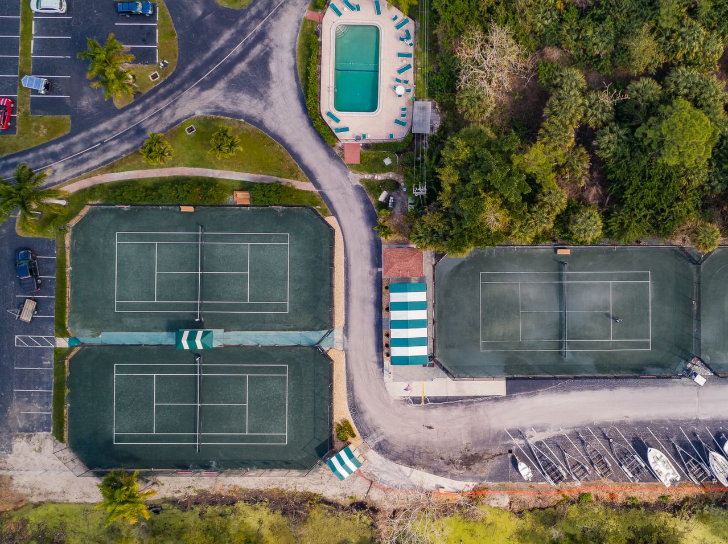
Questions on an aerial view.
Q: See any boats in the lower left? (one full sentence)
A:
No, no boat can be made out in the lower left.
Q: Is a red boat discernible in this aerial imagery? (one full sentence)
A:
No, no red boat is visible in the scene.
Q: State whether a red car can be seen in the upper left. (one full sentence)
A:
Yes, a red car can be seen in the upper left.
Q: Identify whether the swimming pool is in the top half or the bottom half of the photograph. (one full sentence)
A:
Seen from above, the swimming pool lies in the top half of the view.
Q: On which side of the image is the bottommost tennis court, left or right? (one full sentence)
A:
The bottommost tennis court appears in the left half of the scene.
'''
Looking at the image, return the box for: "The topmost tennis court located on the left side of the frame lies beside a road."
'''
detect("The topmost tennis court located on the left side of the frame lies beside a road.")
[70,205,333,337]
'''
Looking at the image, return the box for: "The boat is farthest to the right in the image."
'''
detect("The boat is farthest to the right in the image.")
[706,445,728,486]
